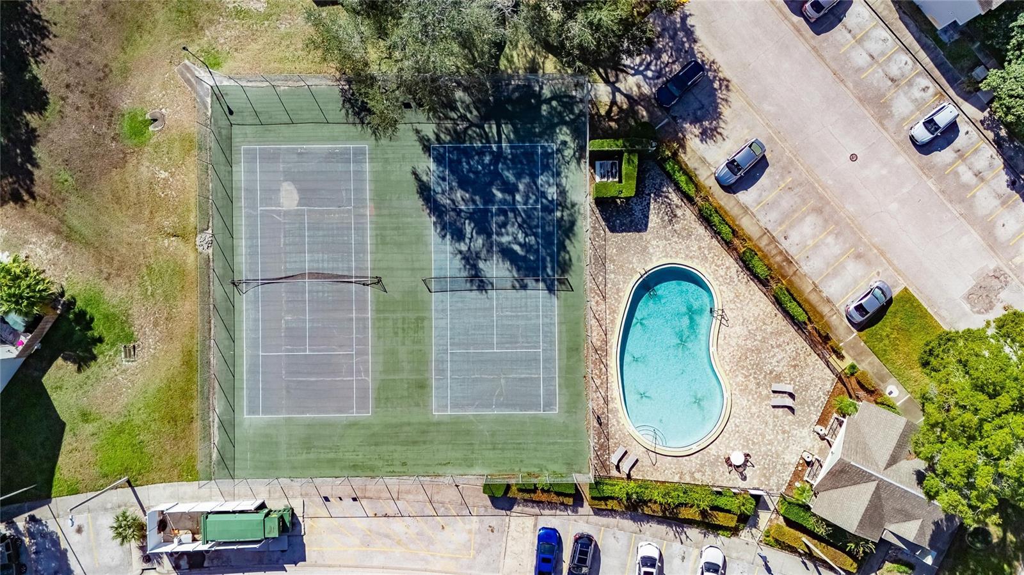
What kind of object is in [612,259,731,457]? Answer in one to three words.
swimming pool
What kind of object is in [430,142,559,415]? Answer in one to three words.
tennis court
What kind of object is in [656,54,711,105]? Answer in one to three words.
car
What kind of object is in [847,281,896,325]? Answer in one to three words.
car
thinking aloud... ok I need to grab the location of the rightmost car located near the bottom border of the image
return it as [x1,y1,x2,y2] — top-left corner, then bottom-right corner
[700,546,727,575]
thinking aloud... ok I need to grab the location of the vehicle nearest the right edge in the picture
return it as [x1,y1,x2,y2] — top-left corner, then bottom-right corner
[913,98,967,144]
